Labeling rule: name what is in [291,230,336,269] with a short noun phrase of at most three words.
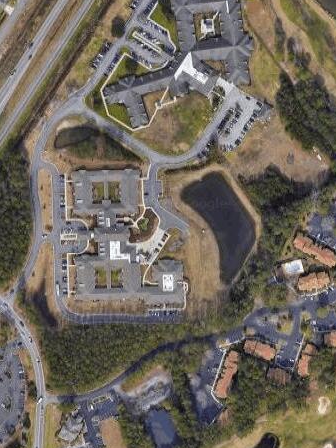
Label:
building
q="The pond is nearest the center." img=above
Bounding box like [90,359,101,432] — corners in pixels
[183,171,257,284]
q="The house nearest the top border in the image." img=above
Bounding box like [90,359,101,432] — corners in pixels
[105,0,255,129]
